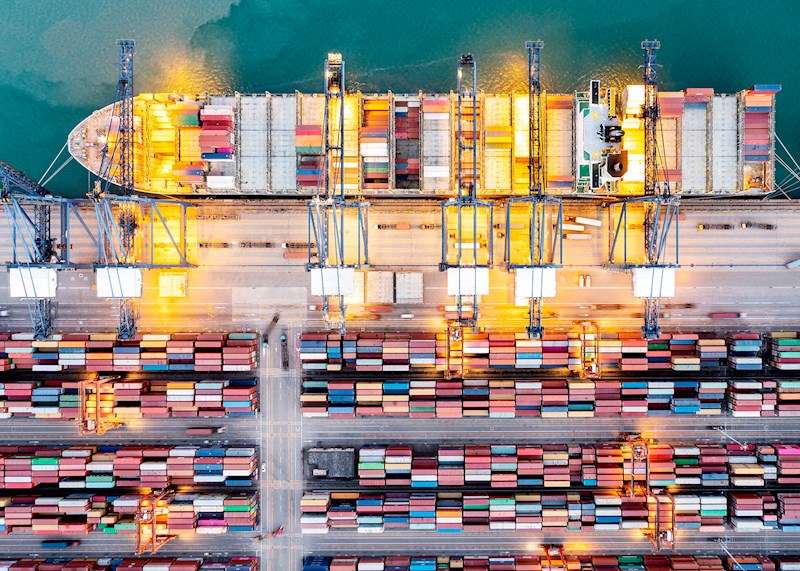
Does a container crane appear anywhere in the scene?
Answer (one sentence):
Yes, this view includes a container crane.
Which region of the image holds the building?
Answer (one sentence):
The building is in the bottom part of the image.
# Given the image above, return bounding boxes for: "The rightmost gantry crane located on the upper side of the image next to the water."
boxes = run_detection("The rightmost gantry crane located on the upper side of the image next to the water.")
[595,40,683,336]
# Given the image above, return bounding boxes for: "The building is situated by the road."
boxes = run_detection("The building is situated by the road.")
[305,449,352,480]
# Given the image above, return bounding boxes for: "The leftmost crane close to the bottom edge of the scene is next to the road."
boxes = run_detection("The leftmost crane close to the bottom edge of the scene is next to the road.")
[135,484,179,553]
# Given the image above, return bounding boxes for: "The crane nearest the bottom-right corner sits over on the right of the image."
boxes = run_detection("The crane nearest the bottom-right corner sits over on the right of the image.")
[641,484,677,553]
